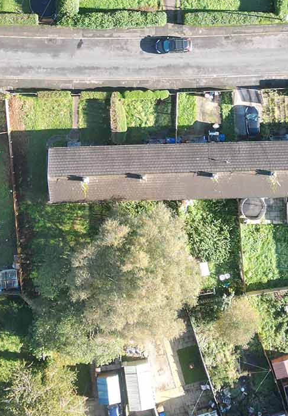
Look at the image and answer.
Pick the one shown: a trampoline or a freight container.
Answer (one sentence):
The image shows a trampoline.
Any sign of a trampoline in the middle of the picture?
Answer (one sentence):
No, no trampoline appears in the middle of the picture.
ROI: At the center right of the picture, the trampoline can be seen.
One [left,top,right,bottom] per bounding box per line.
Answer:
[242,199,268,224]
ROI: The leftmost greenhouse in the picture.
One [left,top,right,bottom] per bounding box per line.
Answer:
[0,265,20,289]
